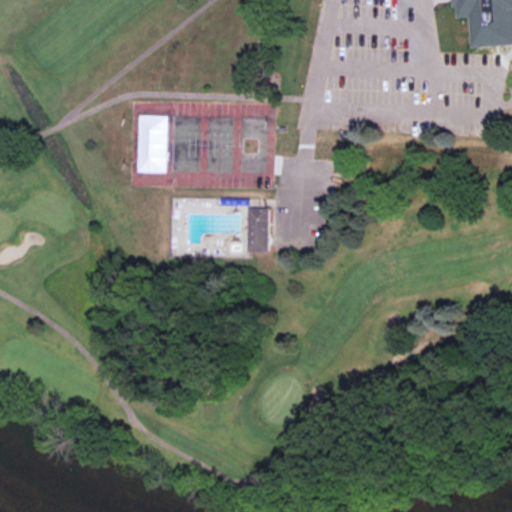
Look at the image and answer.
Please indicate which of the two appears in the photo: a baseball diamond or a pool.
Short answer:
pool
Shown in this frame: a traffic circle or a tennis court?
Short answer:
tennis court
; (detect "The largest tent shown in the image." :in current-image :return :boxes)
[137,114,172,174]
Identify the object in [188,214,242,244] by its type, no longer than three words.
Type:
swimming pool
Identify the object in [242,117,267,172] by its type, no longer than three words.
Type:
tennis court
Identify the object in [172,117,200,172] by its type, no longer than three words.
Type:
tennis court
